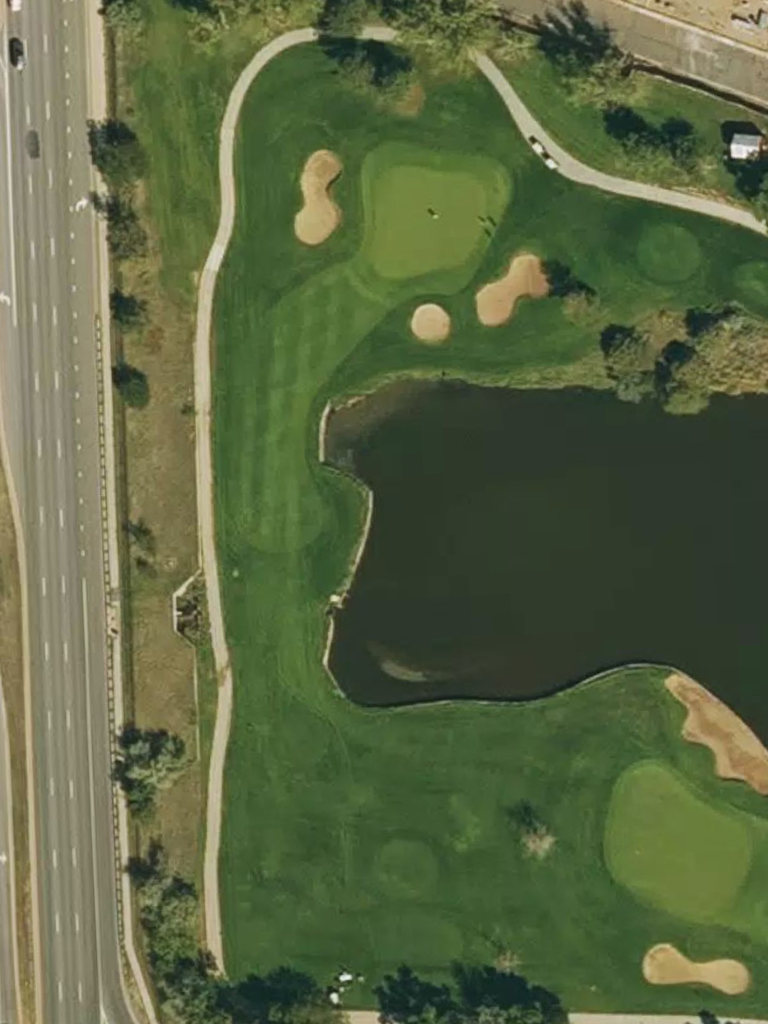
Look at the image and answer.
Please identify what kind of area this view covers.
golf course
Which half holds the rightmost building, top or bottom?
top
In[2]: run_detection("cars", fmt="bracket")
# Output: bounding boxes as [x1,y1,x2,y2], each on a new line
[10,0,21,11]
[10,38,23,65]
[27,130,40,158]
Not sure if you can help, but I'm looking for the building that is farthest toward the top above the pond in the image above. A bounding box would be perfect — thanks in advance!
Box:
[732,132,763,159]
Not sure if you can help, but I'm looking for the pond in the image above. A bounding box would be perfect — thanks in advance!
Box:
[324,376,768,749]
